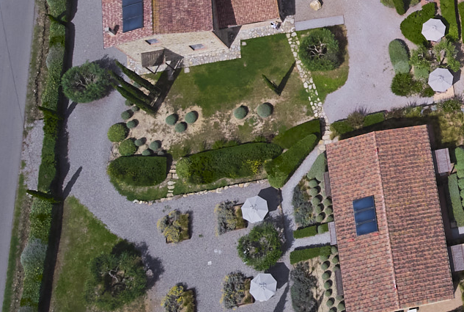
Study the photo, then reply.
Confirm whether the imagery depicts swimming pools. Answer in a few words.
No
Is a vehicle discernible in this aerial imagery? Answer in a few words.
No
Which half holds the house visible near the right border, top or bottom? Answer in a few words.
bottom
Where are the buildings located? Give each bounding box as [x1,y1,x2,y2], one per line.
[101,0,282,57]
[325,125,455,312]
